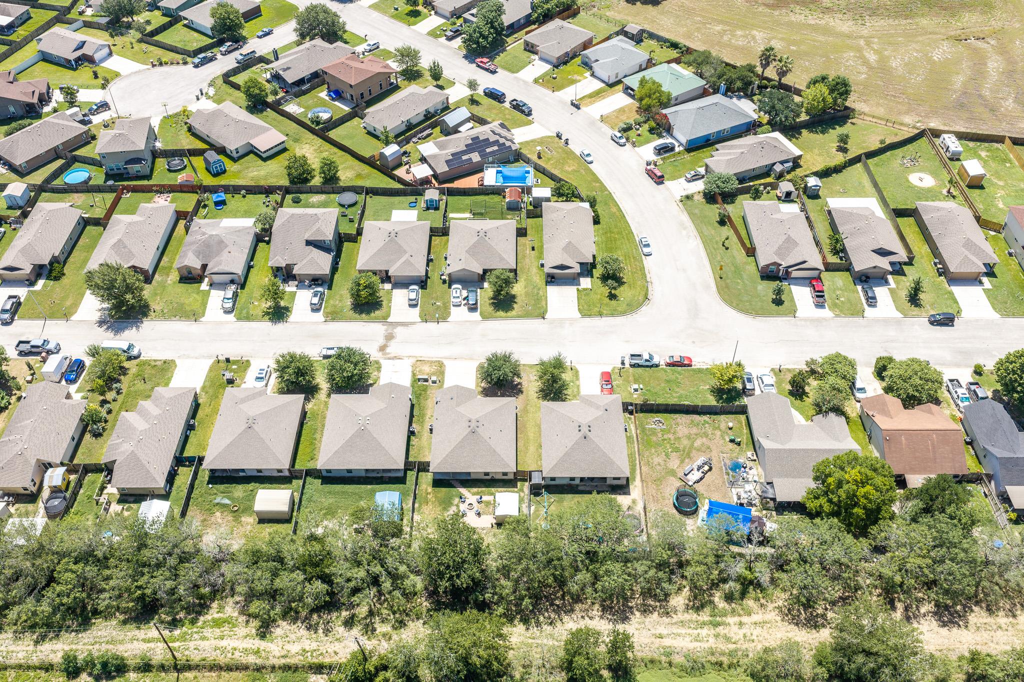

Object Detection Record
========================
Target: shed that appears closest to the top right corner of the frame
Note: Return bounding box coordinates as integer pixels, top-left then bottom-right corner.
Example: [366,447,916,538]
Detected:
[963,165,990,186]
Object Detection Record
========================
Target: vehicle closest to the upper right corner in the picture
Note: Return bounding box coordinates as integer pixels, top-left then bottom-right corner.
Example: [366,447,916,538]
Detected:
[941,125,966,160]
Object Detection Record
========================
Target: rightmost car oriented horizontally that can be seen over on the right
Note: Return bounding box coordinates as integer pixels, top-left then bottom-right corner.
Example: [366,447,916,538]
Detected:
[927,312,958,326]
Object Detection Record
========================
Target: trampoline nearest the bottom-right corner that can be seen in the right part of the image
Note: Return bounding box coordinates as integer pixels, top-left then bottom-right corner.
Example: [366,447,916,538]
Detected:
[673,485,702,516]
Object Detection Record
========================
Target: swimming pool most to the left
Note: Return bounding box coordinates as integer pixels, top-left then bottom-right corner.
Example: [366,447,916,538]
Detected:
[61,168,91,185]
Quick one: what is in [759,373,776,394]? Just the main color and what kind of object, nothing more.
white car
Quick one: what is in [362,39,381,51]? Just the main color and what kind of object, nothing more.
white vehicle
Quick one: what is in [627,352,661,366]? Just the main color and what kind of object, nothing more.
white vehicle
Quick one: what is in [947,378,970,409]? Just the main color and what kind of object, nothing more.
white truck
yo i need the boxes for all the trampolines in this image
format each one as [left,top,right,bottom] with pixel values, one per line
[336,195,357,210]
[623,506,648,529]
[165,155,184,172]
[35,494,66,524]
[673,485,702,516]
